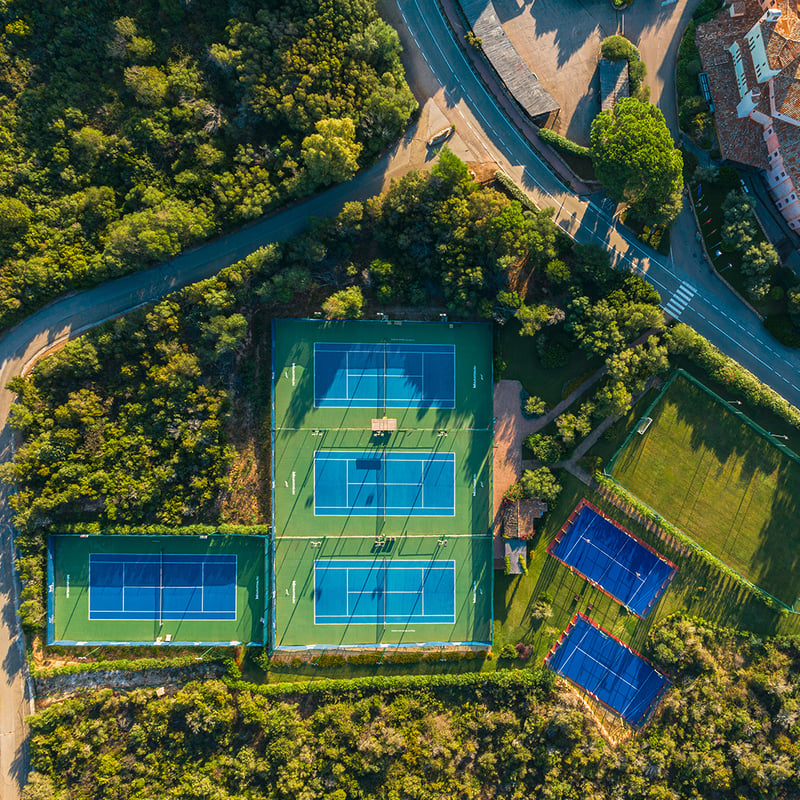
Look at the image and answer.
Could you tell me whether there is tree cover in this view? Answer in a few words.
Yes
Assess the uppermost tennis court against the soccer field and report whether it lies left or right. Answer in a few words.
to the left of it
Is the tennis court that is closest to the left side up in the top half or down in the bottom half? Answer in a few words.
bottom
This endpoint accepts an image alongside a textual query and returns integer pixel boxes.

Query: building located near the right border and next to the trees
[695,0,800,252]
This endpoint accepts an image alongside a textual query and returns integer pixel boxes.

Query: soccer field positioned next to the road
[607,374,800,609]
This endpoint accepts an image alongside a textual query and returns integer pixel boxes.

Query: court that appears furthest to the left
[54,538,267,644]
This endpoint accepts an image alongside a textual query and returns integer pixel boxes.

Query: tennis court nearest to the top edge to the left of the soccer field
[275,322,491,429]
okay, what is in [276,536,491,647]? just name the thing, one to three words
tennis court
